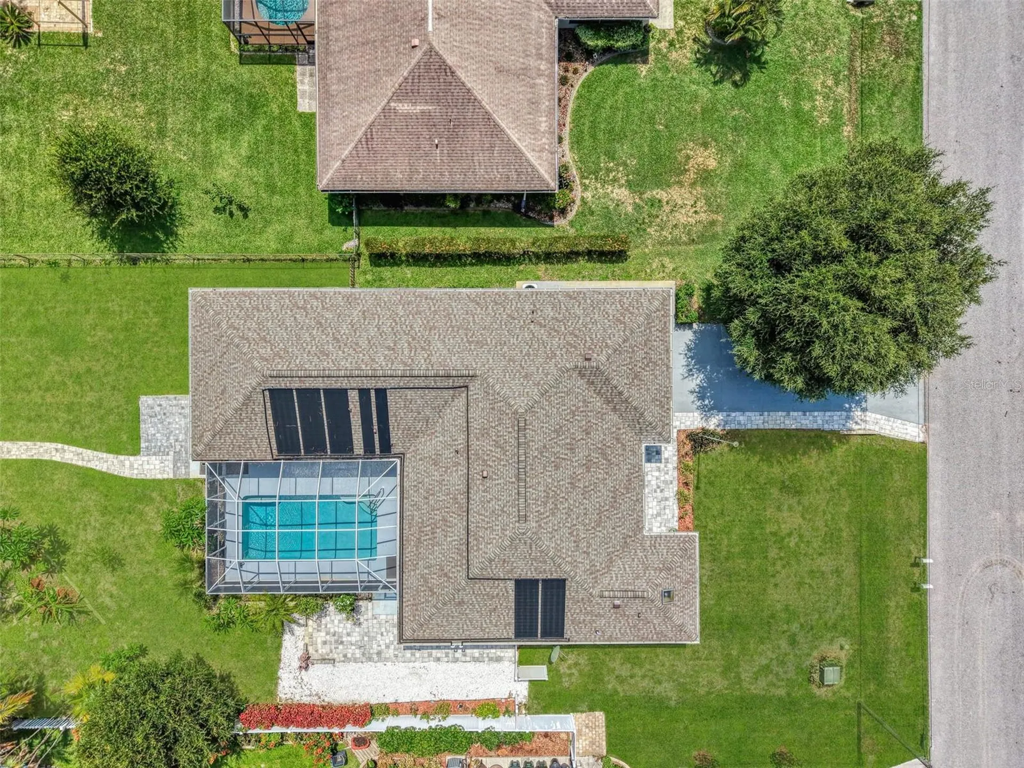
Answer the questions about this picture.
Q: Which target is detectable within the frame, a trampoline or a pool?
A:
pool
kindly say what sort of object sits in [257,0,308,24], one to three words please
swimming pool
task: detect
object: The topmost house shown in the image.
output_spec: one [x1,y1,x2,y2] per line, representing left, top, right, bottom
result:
[316,0,661,211]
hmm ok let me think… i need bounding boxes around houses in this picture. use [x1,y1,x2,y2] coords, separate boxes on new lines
[188,286,700,646]
[316,0,661,211]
